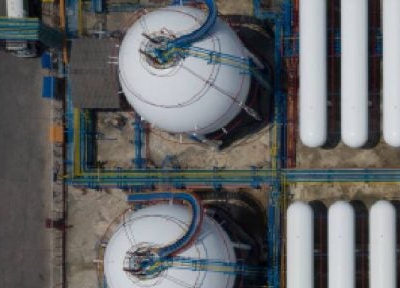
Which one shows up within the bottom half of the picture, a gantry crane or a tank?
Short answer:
tank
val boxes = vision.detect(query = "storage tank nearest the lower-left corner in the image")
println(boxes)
[99,191,270,288]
